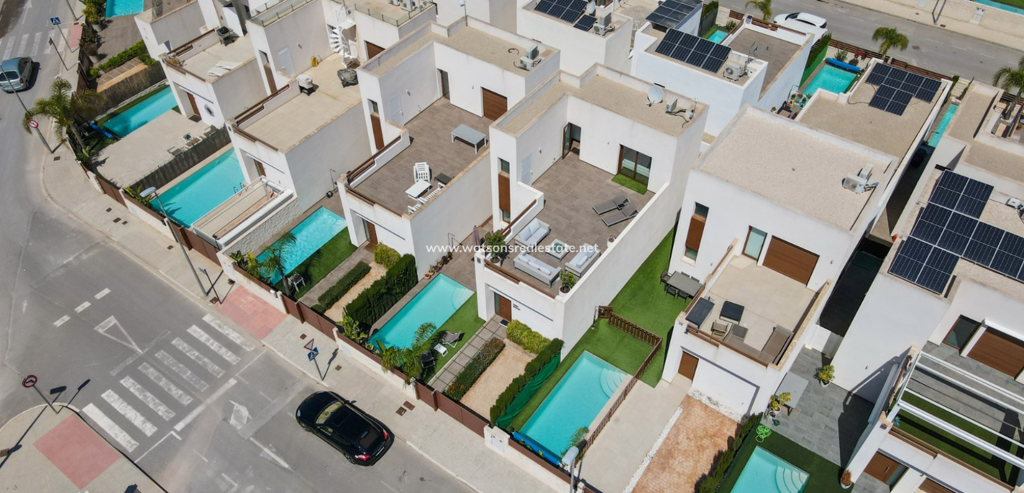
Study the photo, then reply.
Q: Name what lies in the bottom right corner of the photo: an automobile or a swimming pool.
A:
swimming pool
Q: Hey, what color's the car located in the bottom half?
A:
black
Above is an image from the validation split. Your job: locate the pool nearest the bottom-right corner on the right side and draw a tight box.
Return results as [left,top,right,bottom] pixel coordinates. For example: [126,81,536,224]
[732,444,811,493]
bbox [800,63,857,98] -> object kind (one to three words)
swimming pool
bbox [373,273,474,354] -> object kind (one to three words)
swimming pool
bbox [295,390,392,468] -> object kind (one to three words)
car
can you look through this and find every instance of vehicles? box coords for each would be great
[0,57,32,94]
[295,390,392,468]
[772,14,830,44]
